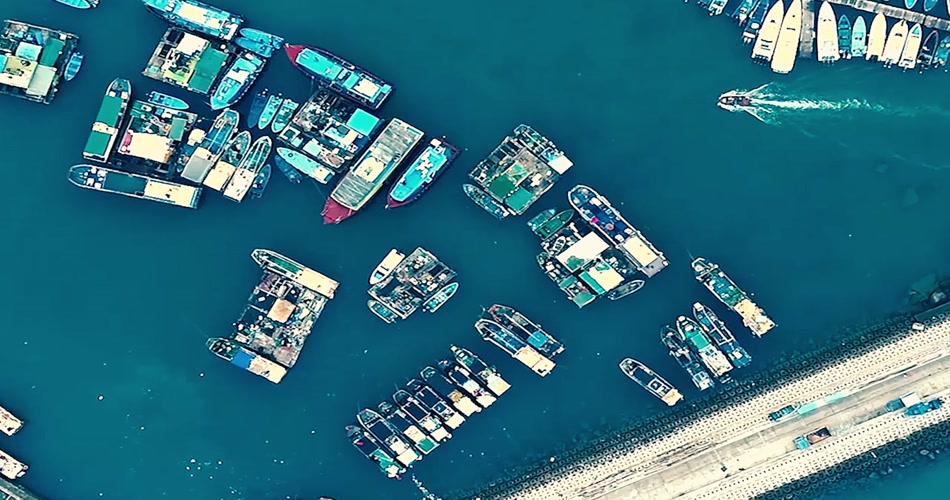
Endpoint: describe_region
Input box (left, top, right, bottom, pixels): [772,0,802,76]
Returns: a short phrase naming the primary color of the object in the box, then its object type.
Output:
white boat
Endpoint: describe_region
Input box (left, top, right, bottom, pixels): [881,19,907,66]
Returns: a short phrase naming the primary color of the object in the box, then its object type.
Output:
white boat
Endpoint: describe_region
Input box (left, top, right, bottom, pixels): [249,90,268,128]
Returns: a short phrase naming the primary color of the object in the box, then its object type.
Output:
blue boat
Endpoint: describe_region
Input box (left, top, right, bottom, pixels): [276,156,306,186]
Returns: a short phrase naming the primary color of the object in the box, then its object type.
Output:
blue boat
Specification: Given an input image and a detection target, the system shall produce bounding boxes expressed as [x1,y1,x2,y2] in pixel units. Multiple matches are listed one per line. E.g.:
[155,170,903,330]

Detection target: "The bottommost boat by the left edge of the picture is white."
[0,450,29,482]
